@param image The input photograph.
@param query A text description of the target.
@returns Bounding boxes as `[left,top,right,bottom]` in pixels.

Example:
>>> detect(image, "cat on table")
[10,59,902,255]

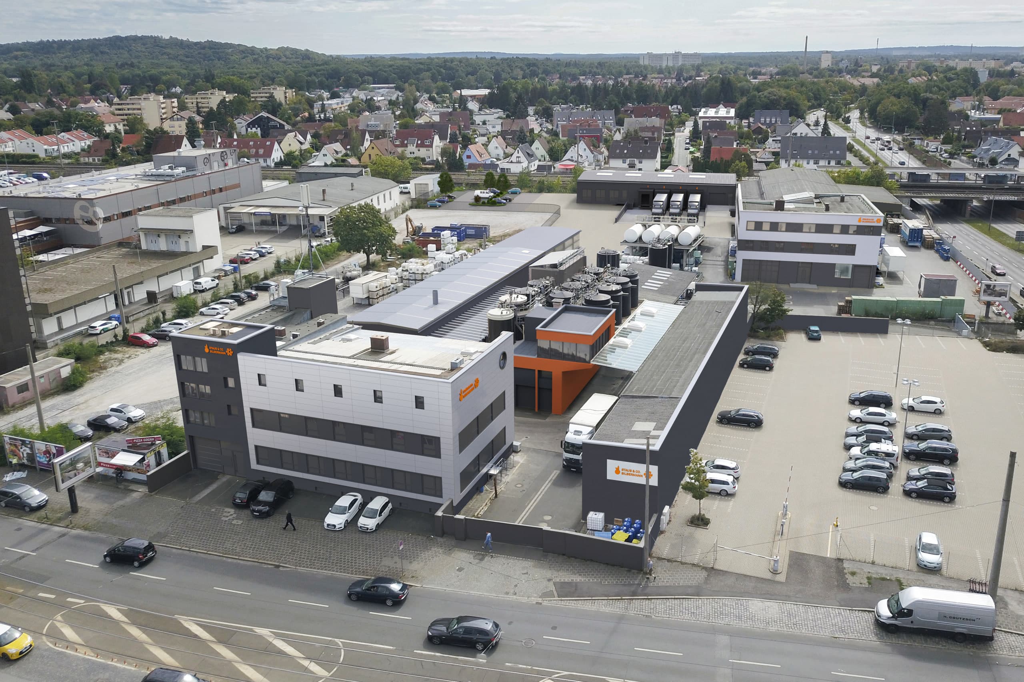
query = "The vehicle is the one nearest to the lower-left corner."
[0,627,31,661]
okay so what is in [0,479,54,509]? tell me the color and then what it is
gray car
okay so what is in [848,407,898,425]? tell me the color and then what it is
white car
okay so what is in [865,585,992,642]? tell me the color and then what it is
gray van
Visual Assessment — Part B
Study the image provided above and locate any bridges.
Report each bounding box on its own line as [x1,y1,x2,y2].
[896,178,1024,218]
